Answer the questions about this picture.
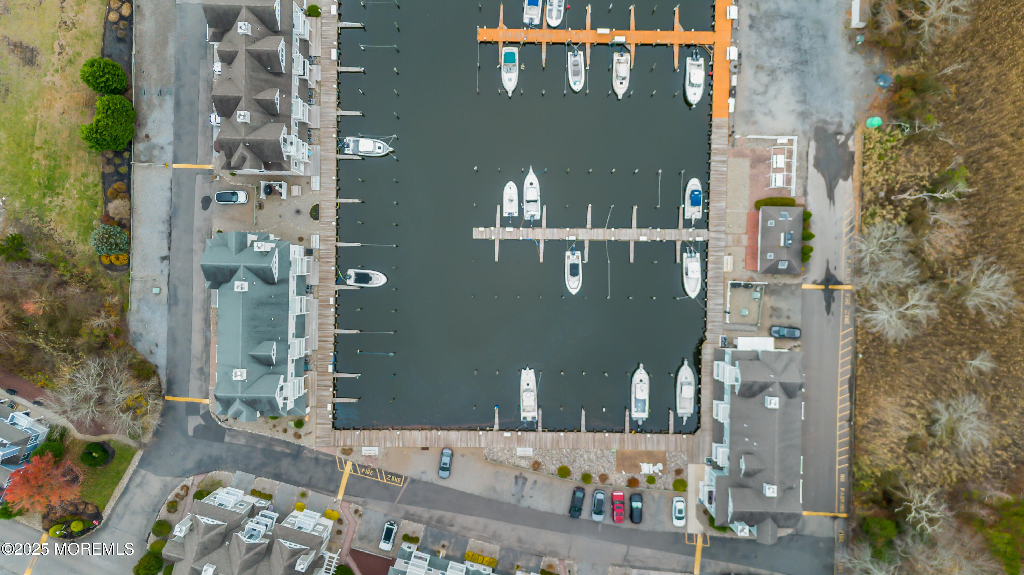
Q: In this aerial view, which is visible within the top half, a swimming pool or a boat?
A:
boat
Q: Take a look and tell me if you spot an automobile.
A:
Yes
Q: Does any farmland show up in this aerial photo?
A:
No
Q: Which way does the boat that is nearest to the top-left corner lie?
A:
from side to side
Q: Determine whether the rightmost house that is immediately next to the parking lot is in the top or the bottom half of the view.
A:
bottom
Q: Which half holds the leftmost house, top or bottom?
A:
bottom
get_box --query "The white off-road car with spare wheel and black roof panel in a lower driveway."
[379,520,397,552]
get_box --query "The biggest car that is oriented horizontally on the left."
[215,189,248,204]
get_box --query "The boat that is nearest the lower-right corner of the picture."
[675,358,694,424]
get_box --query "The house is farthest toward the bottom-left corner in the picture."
[0,391,48,492]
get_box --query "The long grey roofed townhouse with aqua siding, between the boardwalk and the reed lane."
[694,348,805,545]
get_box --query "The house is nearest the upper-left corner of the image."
[202,0,317,175]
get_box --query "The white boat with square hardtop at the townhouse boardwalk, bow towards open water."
[340,136,394,156]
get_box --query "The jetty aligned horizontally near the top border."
[477,2,714,71]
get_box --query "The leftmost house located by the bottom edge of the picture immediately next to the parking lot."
[155,482,336,575]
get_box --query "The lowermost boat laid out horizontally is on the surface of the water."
[343,270,388,287]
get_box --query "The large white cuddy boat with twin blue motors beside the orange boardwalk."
[684,52,704,108]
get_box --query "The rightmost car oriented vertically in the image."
[672,497,687,527]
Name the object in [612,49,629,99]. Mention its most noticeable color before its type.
white boat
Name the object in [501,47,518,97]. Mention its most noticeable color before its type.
white boat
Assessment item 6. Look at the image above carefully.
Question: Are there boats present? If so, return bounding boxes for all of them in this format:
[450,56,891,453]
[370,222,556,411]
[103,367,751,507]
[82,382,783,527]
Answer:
[340,136,394,156]
[612,49,629,99]
[503,181,518,226]
[501,47,518,97]
[523,166,540,226]
[546,0,564,27]
[520,365,537,429]
[568,48,585,92]
[631,362,649,426]
[684,52,704,108]
[523,0,541,28]
[675,358,694,424]
[565,245,582,295]
[682,247,701,299]
[684,178,702,228]
[343,270,388,287]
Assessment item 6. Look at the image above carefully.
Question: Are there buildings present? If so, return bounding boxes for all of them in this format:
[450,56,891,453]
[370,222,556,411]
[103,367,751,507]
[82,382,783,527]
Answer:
[746,206,803,273]
[694,348,805,545]
[381,537,494,575]
[202,0,317,175]
[0,391,48,492]
[155,482,336,575]
[851,0,871,28]
[200,231,313,423]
